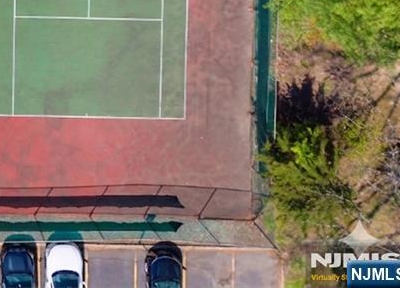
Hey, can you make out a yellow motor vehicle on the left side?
No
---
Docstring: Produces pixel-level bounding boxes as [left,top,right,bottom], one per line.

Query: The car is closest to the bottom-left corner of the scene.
[0,242,42,288]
